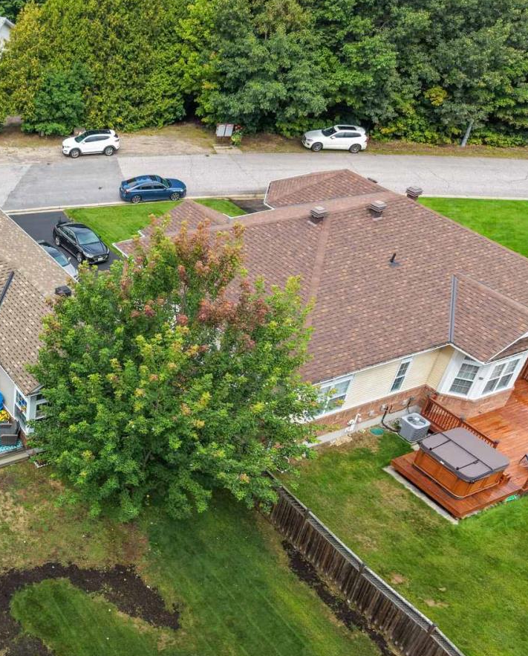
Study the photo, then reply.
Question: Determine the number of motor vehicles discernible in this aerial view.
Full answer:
The photo contains 5 motor vehicles.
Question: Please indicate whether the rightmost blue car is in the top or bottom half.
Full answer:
You can find the rightmost blue car in the top half.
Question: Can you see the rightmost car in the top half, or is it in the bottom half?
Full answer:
Seen from above, the rightmost car lies in the top half of the view.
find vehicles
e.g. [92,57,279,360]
[116,172,188,200]
[59,129,121,158]
[48,216,113,260]
[303,125,370,153]
[28,232,80,276]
